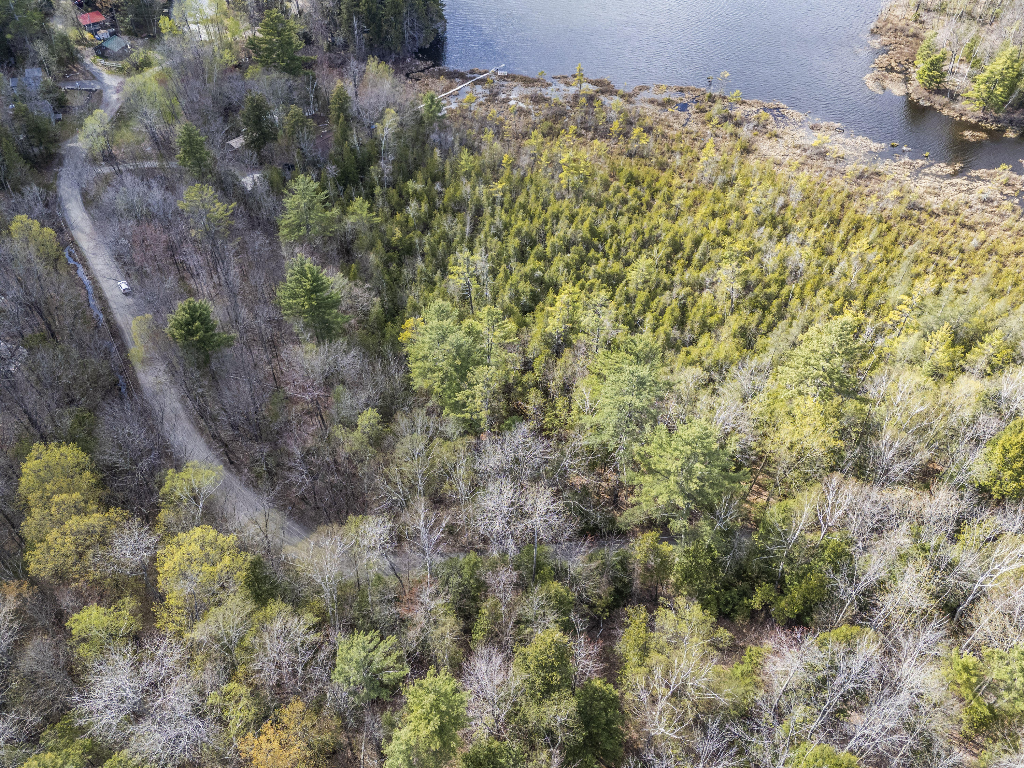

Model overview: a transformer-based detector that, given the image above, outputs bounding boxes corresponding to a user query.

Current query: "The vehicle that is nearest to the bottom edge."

[117,280,130,292]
